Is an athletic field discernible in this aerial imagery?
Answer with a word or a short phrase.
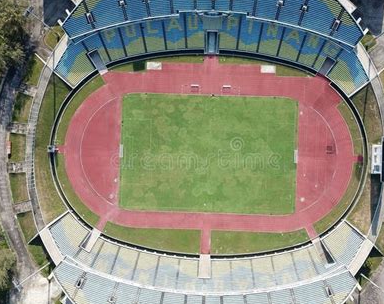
Yes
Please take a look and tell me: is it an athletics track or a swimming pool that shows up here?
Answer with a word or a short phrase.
athletics track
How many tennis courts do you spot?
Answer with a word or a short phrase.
none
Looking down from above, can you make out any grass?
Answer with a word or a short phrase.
Yes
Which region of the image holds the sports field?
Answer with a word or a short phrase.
center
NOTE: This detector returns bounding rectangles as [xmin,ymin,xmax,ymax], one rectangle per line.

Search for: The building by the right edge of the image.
[365,143,382,175]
